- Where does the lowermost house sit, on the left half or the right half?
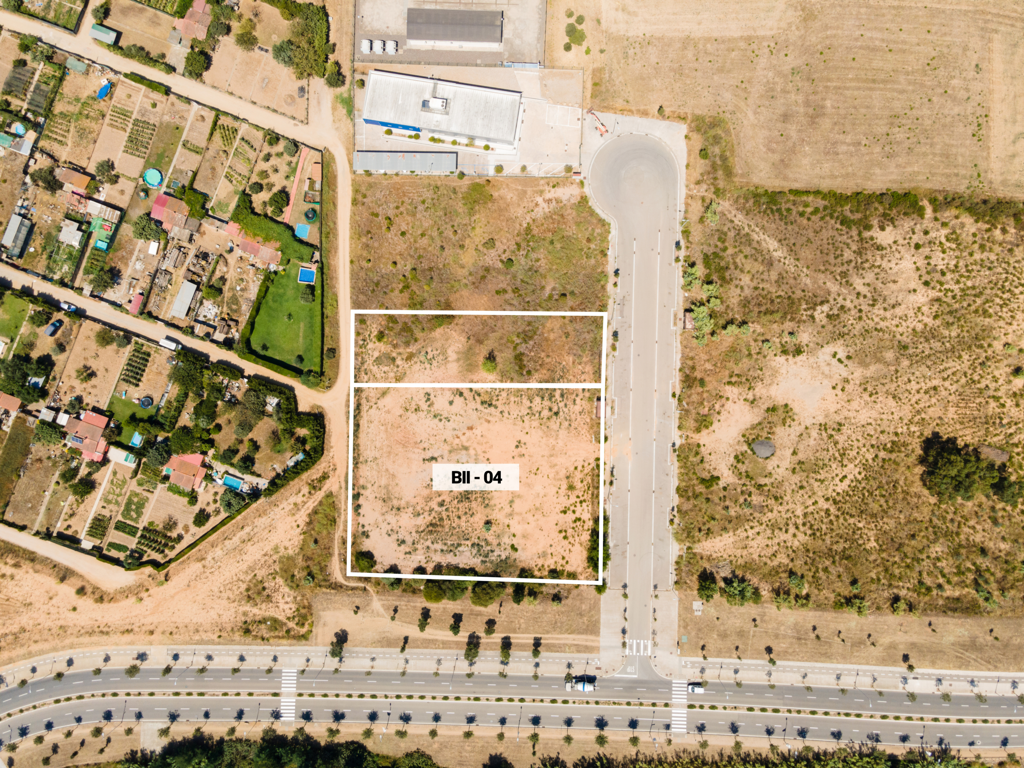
left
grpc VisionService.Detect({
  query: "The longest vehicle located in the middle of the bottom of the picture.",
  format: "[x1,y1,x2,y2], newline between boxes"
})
[565,681,594,693]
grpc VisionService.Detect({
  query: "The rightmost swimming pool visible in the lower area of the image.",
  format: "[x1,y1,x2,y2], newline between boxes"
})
[221,476,244,491]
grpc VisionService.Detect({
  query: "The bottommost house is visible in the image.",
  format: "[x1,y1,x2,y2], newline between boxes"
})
[164,453,209,490]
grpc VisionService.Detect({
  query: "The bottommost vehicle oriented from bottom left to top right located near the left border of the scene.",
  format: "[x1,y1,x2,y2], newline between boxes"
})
[45,320,63,334]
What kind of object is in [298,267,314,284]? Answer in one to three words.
swimming pool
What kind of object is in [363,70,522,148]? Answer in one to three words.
building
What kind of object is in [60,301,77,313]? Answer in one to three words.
vehicle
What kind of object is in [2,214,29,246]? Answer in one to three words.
barn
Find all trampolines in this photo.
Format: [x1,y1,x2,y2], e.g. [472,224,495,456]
[303,208,316,221]
[138,397,152,409]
